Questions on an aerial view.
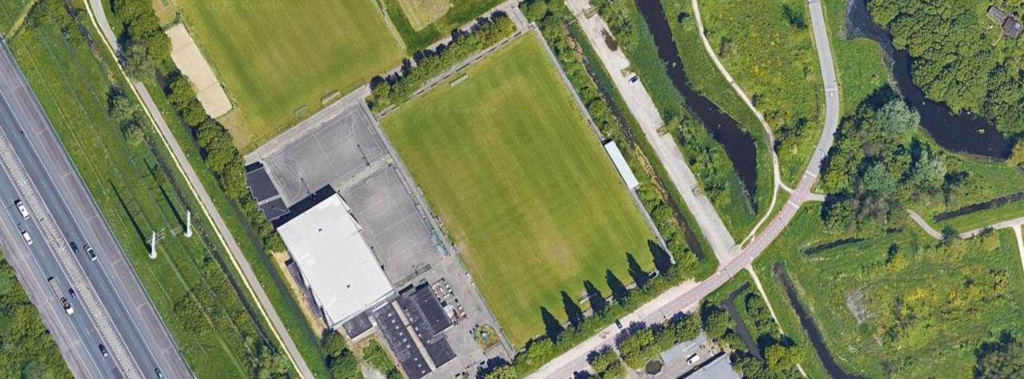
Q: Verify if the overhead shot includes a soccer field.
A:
Yes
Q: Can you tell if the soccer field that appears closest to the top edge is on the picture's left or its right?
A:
left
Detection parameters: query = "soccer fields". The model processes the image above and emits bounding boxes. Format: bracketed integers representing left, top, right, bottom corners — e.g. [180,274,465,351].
[384,33,671,348]
[172,0,407,147]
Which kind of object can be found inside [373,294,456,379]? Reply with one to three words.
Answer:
building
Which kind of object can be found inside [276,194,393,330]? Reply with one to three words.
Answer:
building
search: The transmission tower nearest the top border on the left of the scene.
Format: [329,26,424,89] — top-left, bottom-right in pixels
[177,210,193,239]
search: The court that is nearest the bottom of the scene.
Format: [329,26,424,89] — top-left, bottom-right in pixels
[342,162,447,284]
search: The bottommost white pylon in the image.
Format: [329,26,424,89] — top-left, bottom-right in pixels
[149,232,161,261]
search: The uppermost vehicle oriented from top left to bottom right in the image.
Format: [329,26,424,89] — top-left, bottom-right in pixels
[16,200,30,220]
